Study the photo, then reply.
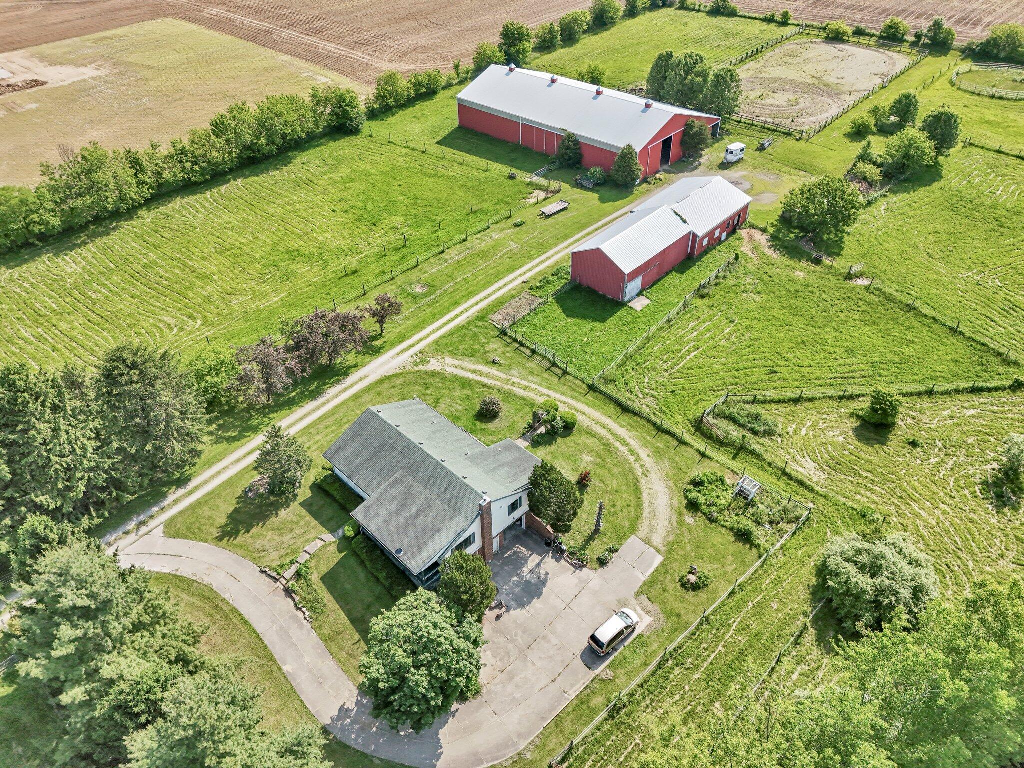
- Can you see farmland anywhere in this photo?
Yes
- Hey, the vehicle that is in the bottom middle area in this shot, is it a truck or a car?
car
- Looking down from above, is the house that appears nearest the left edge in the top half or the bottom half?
bottom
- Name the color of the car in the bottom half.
white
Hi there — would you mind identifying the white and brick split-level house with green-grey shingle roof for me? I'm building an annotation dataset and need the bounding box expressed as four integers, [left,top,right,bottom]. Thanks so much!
[322,401,552,606]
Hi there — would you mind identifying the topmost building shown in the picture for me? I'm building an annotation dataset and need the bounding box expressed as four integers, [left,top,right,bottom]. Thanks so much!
[456,66,723,180]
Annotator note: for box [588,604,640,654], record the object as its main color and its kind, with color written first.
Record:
white car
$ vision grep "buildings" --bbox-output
[570,175,755,302]
[322,401,552,606]
[456,66,723,180]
